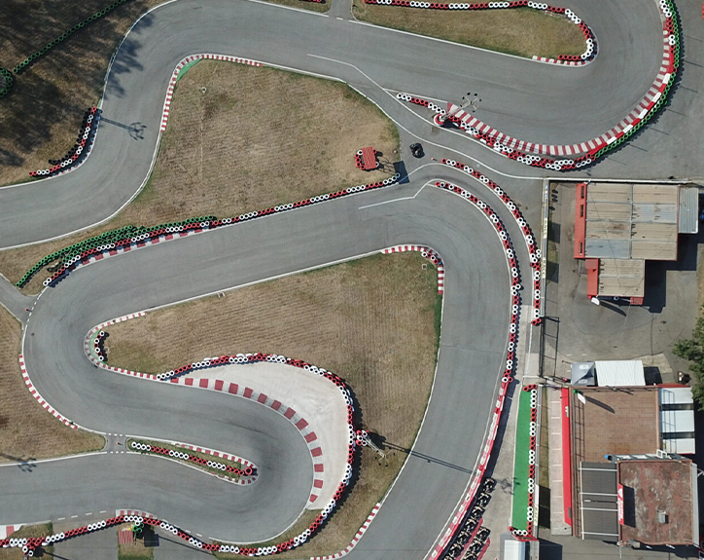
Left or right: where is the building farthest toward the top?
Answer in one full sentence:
The building farthest toward the top appears in the right half of the scene.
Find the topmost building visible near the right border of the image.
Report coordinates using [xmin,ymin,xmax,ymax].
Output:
[575,183,700,304]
